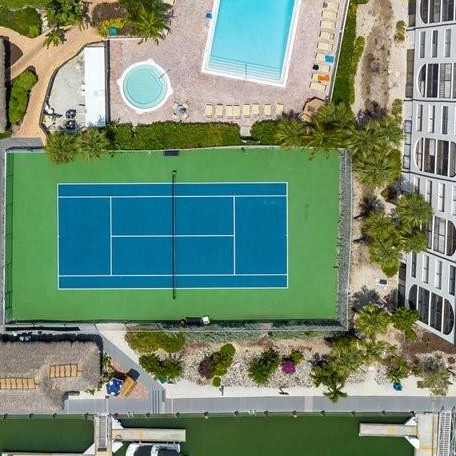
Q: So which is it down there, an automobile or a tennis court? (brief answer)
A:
tennis court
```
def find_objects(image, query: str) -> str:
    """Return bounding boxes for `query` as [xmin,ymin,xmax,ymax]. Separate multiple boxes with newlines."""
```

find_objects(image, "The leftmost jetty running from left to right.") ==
[3,419,185,456]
